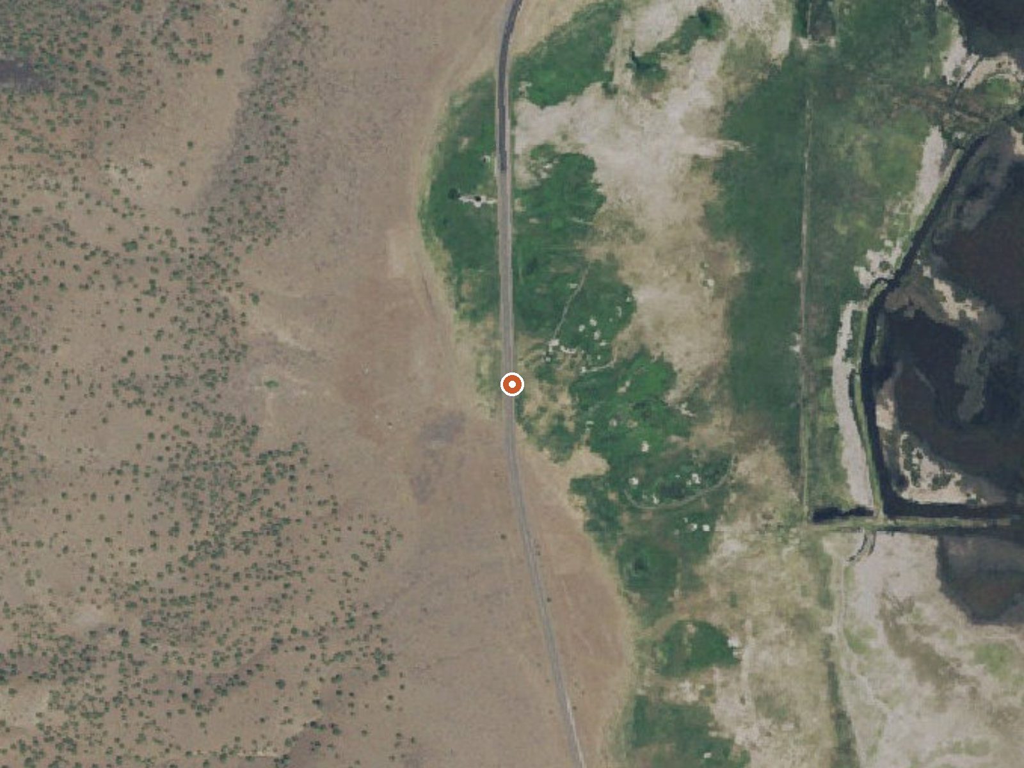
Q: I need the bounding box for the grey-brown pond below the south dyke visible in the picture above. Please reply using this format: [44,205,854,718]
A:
[936,530,1024,626]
